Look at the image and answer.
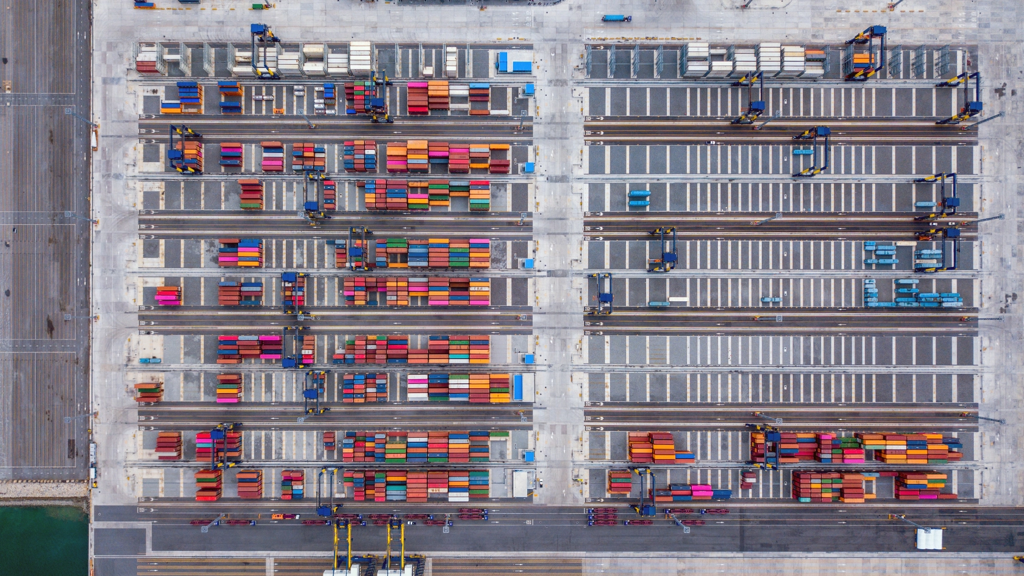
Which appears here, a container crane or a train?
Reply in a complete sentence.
Looking from above, you can make out a container crane.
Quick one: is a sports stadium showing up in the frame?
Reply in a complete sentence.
No, the frame has no sports stadium in it.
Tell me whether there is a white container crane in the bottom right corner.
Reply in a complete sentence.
No, no white container crane can be made out in the bottom right corner.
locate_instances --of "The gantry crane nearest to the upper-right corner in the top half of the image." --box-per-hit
[936,71,983,125]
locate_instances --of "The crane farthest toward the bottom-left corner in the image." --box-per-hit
[209,422,243,471]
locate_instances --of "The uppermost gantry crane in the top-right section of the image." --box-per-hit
[845,25,887,81]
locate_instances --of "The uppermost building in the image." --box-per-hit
[497,52,534,73]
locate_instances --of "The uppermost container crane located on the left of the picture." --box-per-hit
[249,24,281,80]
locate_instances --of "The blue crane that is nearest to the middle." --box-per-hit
[586,271,614,316]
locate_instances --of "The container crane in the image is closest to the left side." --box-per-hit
[167,126,202,177]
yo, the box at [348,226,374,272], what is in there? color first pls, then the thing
blue container crane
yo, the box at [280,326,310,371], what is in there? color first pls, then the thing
blue container crane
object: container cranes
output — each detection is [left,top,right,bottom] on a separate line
[586,271,614,316]
[302,369,331,415]
[167,126,202,177]
[936,71,983,125]
[322,521,382,576]
[915,227,960,274]
[249,24,281,80]
[731,71,766,125]
[845,25,887,81]
[915,172,960,221]
[281,270,311,315]
[369,70,395,124]
[302,170,331,219]
[376,521,429,576]
[745,424,781,472]
[316,465,344,516]
[348,226,374,272]
[627,466,658,517]
[209,422,243,471]
[280,326,310,371]
[647,227,678,273]
[792,126,831,178]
